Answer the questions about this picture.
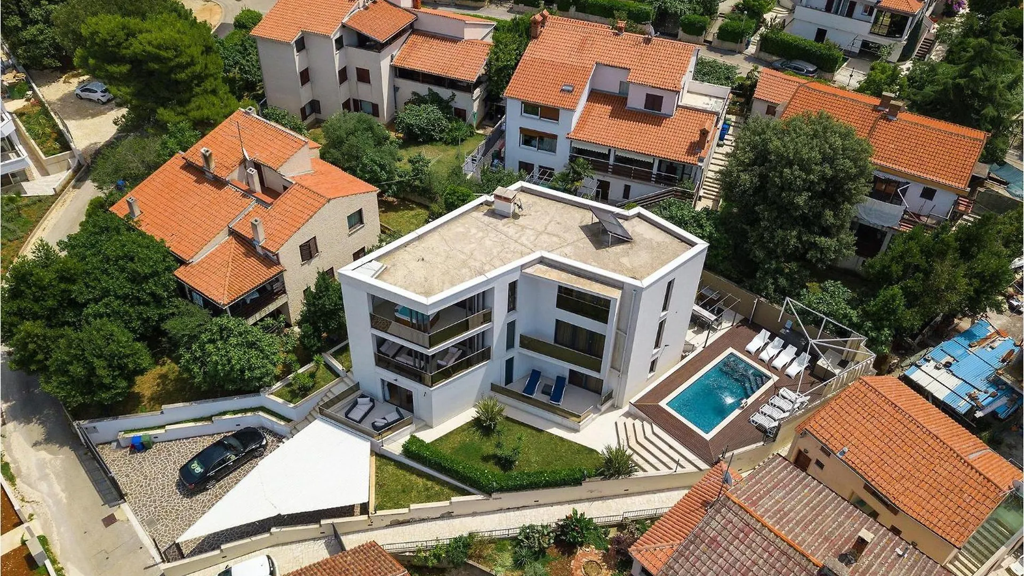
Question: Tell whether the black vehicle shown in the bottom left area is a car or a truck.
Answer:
car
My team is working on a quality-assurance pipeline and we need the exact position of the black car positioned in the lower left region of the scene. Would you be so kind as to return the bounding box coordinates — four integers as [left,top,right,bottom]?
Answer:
[177,428,267,486]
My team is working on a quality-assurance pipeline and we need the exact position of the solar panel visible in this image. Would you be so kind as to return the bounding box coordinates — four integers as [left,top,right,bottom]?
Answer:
[593,207,633,246]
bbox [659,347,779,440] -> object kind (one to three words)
swimming pool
